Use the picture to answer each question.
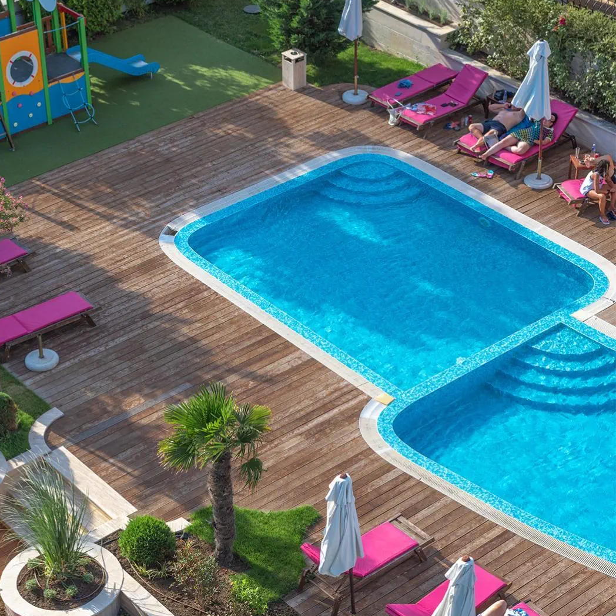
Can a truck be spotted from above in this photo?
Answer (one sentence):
No, I can see no truck in this picture.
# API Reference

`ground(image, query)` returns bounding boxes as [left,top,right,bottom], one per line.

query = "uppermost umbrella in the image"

[339,0,368,102]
